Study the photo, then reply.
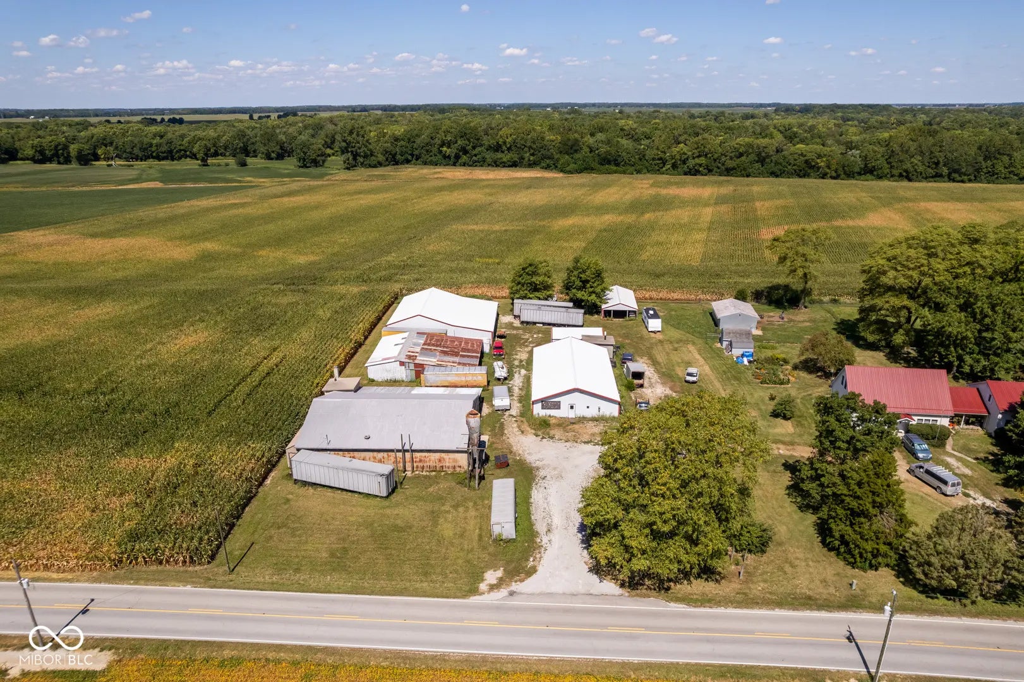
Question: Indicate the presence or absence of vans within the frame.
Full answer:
Yes, this view includes a van.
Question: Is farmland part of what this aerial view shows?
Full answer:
Yes, farmland can be seen from above here.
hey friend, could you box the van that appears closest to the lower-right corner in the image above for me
[906,463,965,497]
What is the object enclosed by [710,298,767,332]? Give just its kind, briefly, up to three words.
building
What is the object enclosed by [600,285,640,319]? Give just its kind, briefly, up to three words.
shed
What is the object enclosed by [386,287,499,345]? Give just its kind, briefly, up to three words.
barn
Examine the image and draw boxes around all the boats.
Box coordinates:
[491,356,507,379]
